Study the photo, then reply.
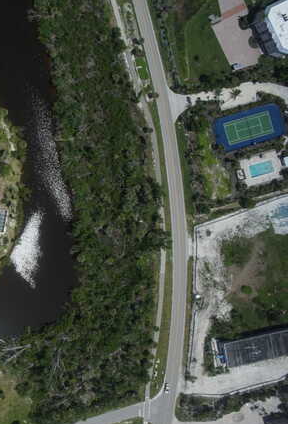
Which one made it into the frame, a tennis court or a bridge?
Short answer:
tennis court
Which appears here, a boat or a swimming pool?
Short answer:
swimming pool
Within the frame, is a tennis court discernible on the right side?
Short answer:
Yes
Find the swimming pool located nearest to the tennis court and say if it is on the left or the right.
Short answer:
right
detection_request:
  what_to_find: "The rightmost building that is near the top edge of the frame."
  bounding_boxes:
[246,0,288,66]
